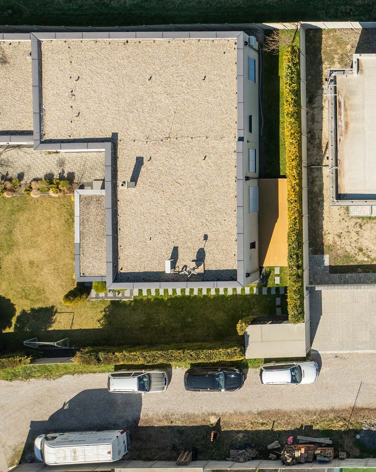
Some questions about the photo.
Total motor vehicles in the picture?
4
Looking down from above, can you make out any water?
No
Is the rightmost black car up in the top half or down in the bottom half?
bottom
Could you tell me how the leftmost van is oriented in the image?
from left to right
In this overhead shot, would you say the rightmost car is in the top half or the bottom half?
bottom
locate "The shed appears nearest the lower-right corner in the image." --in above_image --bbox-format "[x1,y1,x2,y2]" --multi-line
[245,319,306,360]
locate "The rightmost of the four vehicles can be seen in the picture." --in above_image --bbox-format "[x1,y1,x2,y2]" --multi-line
[258,359,319,389]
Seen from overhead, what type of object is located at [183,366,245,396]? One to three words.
car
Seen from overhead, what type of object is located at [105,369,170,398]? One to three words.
car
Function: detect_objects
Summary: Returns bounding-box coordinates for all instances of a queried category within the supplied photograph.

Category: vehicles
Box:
[105,369,170,398]
[36,428,130,469]
[183,366,245,396]
[258,359,319,389]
